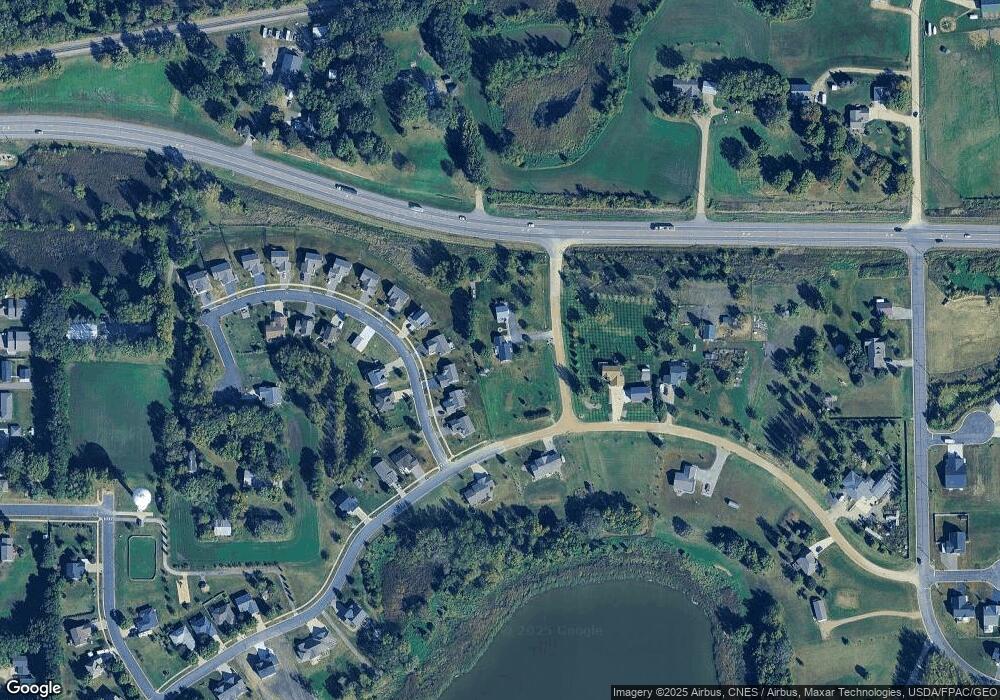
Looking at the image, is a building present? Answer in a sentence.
Yes, the frame does contain a building.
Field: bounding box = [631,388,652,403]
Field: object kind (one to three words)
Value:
building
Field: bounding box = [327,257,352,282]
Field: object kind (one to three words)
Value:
house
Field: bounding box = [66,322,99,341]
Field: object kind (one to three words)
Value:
building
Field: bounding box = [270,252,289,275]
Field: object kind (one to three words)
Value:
house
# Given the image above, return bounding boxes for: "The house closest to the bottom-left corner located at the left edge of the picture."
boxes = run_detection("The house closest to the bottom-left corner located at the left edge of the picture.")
[11,656,30,679]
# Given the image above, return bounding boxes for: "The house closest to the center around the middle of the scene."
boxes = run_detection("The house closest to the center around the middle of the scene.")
[495,341,512,361]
